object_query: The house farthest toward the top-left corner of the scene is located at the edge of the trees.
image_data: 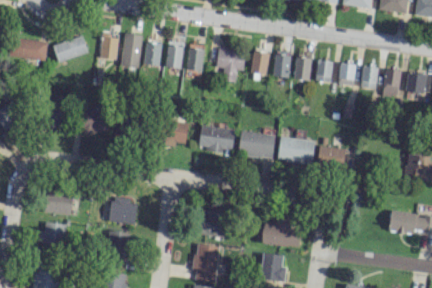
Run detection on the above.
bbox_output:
[9,40,48,63]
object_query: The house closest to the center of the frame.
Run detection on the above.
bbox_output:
[200,124,236,158]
